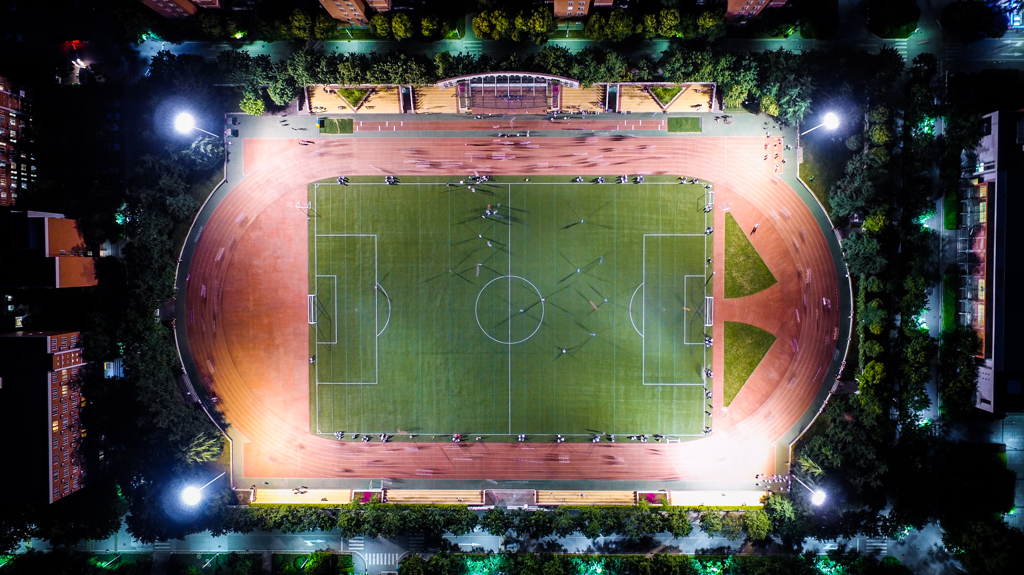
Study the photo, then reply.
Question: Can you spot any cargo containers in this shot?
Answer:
No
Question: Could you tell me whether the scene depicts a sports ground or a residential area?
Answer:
sports ground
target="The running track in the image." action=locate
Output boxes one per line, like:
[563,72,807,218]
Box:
[186,136,840,486]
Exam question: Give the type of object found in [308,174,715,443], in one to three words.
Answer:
soccer field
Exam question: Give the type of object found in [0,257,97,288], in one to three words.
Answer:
building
